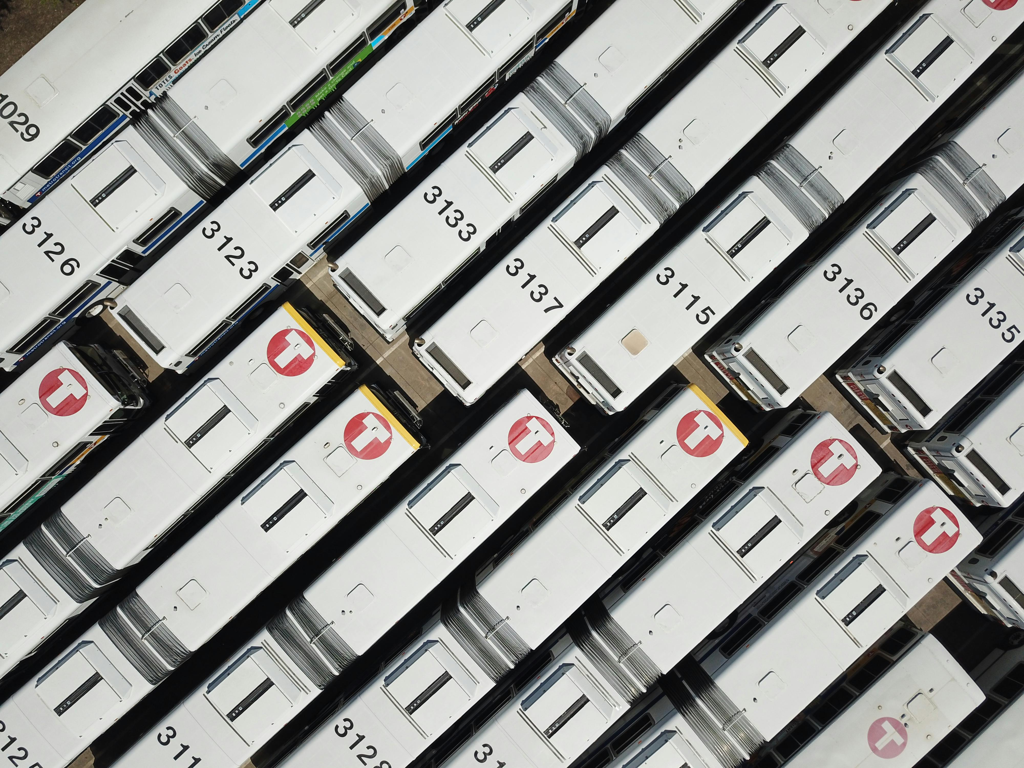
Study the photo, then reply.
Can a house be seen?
No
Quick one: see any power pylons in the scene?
No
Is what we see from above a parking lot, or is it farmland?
parking lot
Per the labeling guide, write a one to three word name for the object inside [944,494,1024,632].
bus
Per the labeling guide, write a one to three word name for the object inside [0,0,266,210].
bus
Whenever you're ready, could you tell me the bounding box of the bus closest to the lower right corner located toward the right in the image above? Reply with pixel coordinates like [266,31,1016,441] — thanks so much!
[907,627,1024,768]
